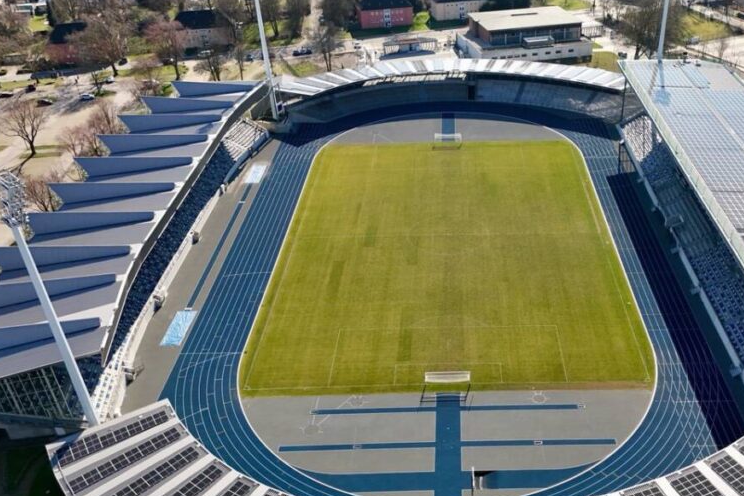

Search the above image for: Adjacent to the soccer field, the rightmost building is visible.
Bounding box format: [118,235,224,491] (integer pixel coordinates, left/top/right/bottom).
[458,7,621,63]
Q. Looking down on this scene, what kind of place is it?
sports ground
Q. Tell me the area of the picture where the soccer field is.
center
